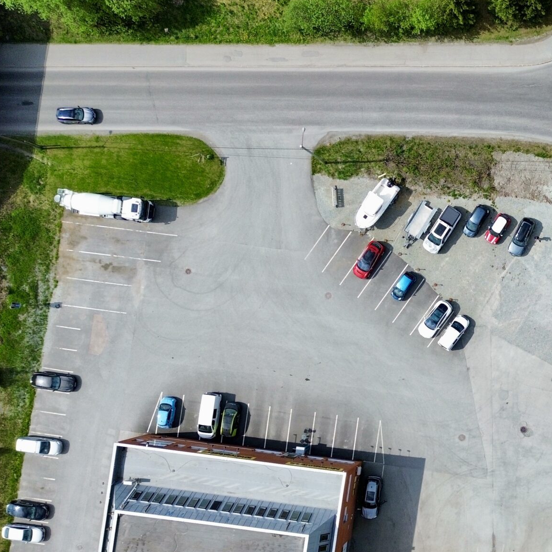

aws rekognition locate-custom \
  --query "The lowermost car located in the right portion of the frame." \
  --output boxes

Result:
[359,477,382,520]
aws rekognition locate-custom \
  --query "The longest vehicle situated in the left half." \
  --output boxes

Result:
[51,187,155,225]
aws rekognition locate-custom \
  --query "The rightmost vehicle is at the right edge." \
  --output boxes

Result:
[507,215,537,261]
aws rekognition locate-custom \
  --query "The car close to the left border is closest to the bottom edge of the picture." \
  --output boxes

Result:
[1,522,48,545]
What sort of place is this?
parking lot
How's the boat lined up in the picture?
on a diagonal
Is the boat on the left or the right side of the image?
right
